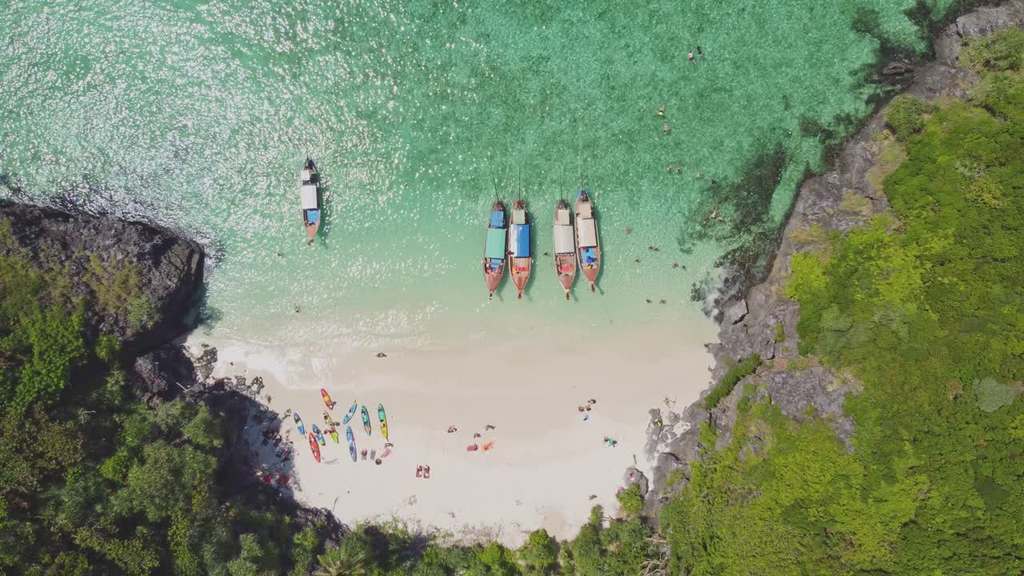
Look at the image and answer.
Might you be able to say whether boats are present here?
Yes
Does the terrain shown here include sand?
Yes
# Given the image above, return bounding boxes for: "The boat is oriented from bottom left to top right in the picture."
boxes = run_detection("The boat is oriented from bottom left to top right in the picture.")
[342,405,355,425]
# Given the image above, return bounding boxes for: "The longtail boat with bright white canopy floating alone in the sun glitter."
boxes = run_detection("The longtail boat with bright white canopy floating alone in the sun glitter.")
[298,125,319,246]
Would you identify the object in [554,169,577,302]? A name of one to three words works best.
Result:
boat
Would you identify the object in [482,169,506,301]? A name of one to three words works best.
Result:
boat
